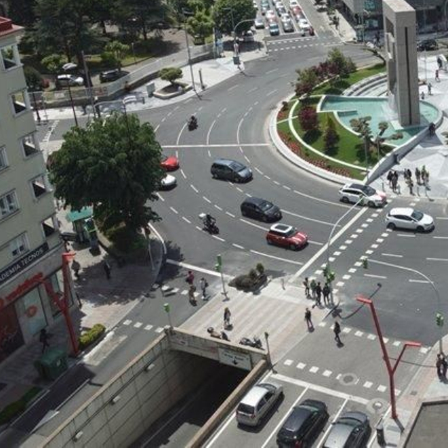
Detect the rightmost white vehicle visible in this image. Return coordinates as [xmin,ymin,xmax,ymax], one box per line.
[384,207,435,231]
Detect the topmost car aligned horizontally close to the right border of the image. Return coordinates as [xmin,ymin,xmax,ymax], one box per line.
[416,39,442,52]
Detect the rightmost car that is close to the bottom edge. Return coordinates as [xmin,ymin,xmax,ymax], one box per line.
[319,400,375,448]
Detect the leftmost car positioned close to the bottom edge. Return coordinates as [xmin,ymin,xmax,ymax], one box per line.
[270,390,333,448]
